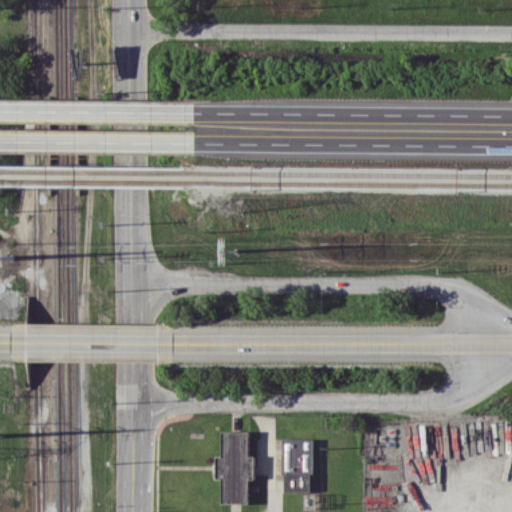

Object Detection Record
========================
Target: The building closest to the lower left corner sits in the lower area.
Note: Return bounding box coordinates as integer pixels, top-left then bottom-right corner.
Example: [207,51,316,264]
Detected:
[212,433,256,504]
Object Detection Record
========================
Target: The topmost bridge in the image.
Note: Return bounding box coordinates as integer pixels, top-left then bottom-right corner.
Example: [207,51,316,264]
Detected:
[0,100,194,124]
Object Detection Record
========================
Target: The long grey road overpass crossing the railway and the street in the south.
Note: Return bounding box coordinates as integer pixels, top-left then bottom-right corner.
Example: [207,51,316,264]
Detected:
[10,324,173,364]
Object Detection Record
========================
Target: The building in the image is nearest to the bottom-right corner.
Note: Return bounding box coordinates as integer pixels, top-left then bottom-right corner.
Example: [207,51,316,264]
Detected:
[278,440,314,492]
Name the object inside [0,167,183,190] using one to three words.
bridge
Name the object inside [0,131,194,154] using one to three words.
bridge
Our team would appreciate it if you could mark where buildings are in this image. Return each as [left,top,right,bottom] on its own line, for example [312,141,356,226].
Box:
[212,433,256,504]
[278,440,314,492]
